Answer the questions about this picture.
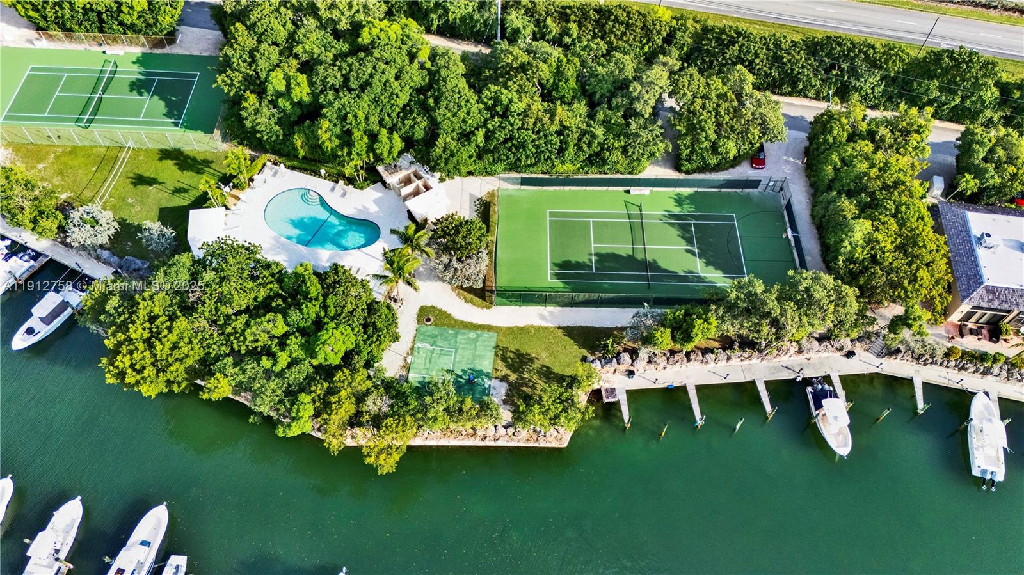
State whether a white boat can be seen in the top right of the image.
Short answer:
No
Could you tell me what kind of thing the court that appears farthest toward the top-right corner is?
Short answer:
tennis court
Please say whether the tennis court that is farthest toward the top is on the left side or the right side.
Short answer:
left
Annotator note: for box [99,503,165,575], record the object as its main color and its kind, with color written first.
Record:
white boat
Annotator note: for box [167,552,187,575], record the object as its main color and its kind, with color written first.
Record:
white boat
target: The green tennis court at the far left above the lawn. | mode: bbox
[0,46,219,151]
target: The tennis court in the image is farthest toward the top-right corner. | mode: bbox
[495,189,801,308]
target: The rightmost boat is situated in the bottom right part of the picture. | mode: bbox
[964,392,1014,493]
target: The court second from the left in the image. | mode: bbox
[406,326,497,403]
